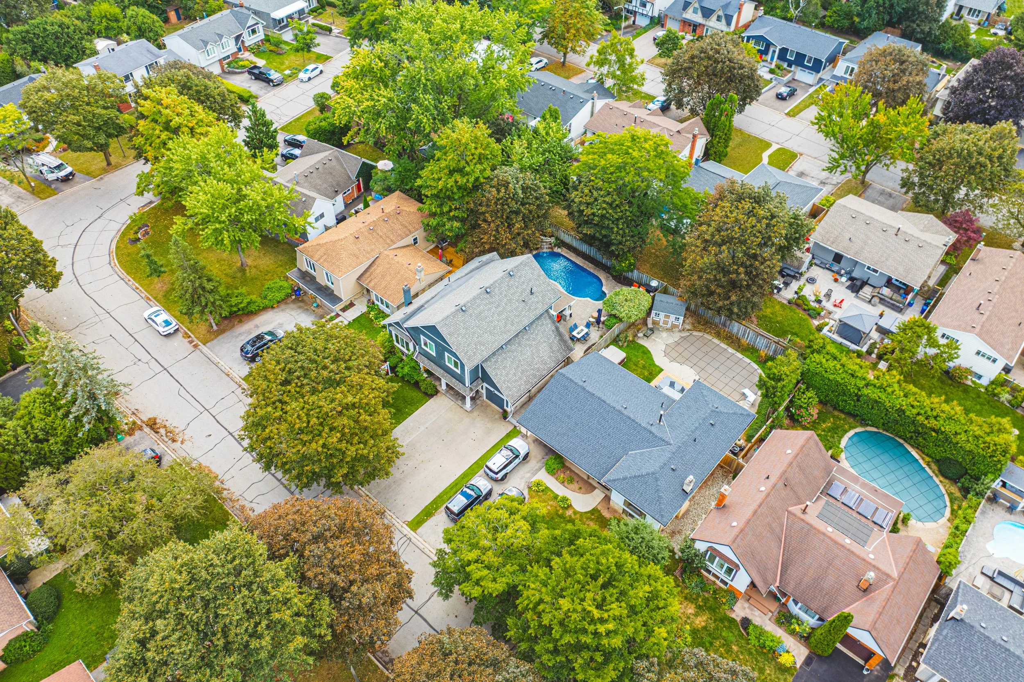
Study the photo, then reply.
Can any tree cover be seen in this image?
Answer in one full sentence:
Yes, there's tree cover in this view.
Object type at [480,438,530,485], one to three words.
car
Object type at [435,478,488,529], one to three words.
car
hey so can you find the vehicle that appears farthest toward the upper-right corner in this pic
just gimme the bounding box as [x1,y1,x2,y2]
[776,85,800,99]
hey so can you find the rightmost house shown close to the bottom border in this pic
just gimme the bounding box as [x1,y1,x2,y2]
[911,580,1024,682]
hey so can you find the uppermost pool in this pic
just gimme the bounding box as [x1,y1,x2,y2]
[529,250,604,299]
